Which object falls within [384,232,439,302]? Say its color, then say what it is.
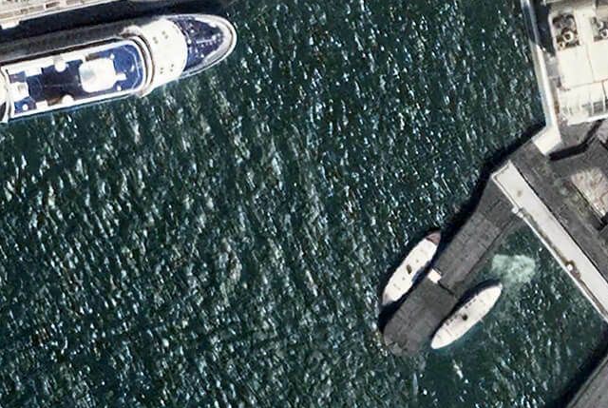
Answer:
white vessel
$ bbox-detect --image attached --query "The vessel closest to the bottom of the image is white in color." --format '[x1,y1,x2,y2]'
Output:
[433,282,501,346]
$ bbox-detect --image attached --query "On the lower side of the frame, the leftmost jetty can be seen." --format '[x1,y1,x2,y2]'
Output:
[383,175,521,353]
